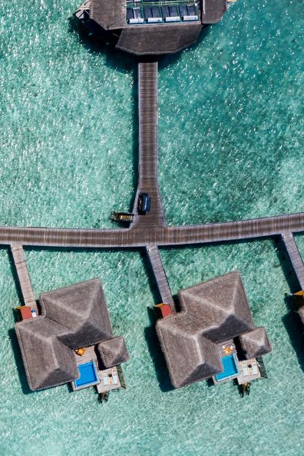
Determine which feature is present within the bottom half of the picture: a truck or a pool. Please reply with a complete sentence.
Looking within the bottom half of the picture, you will find a pool.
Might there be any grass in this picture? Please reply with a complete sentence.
No, there's no grass in this view.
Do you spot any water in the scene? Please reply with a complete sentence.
Yes, there's water in this view.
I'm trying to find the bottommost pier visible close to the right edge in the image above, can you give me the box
[276,232,304,288]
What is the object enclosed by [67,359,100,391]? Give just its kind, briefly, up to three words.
swimming pool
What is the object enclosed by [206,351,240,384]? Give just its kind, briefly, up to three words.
swimming pool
